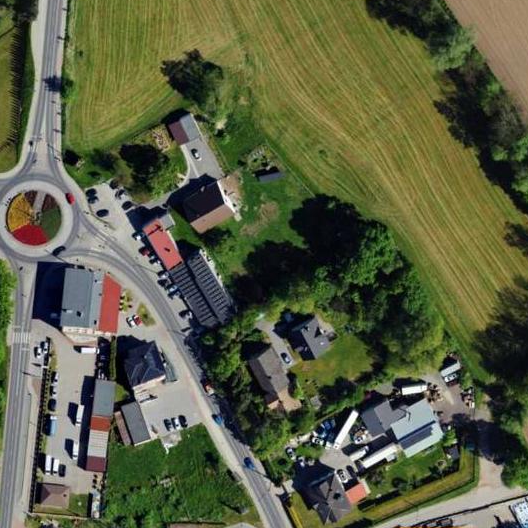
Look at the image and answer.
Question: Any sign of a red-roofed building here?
Yes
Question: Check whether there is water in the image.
No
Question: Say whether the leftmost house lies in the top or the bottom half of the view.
bottom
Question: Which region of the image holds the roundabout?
left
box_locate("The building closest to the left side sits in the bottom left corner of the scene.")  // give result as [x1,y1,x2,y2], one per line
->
[39,483,69,508]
